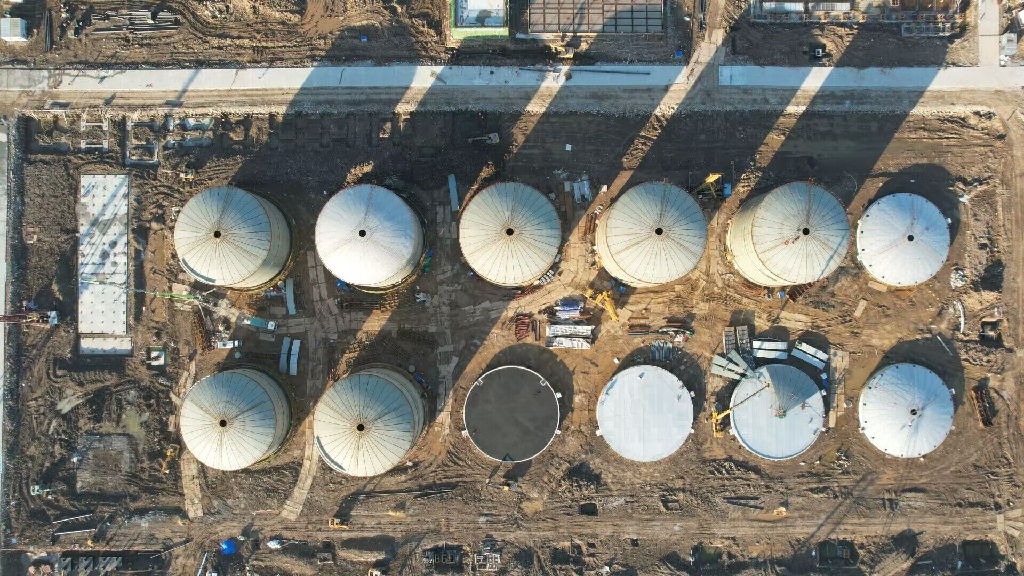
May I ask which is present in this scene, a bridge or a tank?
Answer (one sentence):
There is a tank in the scene.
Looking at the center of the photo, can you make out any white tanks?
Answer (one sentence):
Yes, looking at the center of the photo, one can make out a white tank.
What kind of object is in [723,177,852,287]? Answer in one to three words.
storage tank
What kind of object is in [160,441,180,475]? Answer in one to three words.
work vehicle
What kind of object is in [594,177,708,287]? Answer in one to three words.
storage tank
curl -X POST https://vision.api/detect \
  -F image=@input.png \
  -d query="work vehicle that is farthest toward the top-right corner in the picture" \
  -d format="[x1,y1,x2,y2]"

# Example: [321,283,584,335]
[547,41,578,58]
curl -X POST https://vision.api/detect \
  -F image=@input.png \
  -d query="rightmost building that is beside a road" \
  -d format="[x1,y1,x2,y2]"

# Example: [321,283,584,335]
[999,30,1022,55]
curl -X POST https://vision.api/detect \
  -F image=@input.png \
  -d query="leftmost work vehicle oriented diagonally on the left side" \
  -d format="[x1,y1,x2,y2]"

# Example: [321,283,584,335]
[81,534,103,550]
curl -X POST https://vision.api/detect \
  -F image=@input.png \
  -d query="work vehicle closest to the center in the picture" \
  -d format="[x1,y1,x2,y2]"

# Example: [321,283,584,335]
[468,131,501,144]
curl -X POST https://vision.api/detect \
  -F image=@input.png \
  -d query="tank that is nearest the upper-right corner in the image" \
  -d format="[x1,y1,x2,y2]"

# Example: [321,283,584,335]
[854,193,953,287]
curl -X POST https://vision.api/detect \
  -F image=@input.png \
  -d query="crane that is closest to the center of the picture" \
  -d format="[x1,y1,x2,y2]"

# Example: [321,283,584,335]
[585,283,620,322]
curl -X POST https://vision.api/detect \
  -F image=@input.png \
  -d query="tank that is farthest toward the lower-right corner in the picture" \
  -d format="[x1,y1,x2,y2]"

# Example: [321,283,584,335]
[856,362,957,457]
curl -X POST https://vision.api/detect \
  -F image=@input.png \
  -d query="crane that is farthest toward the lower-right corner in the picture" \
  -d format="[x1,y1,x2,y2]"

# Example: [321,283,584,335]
[710,381,770,441]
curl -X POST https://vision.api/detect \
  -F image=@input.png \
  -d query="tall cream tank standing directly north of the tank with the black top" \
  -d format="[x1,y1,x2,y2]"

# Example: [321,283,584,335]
[459,178,562,288]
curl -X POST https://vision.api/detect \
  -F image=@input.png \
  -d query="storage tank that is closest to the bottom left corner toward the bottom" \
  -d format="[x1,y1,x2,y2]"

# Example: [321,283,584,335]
[179,363,299,470]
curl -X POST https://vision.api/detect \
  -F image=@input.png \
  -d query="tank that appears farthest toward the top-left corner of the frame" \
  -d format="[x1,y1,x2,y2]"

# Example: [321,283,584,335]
[173,183,295,288]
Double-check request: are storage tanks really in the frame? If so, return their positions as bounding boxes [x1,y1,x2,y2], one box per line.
[594,177,708,287]
[179,363,299,470]
[594,363,694,462]
[463,363,561,462]
[723,177,852,287]
[173,183,295,288]
[725,362,826,460]
[856,362,957,457]
[314,180,427,289]
[459,178,562,288]
[313,363,427,477]
[854,193,953,287]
